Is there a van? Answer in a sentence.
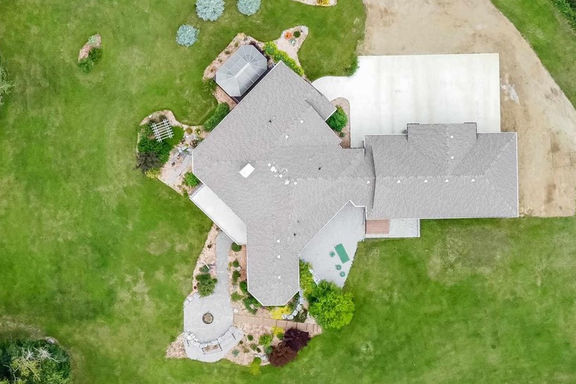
No, the frame has no van in it.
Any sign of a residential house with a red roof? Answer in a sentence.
No, there appears to be no residential house with a red roof in this shot.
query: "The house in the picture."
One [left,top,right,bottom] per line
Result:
[191,60,519,306]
